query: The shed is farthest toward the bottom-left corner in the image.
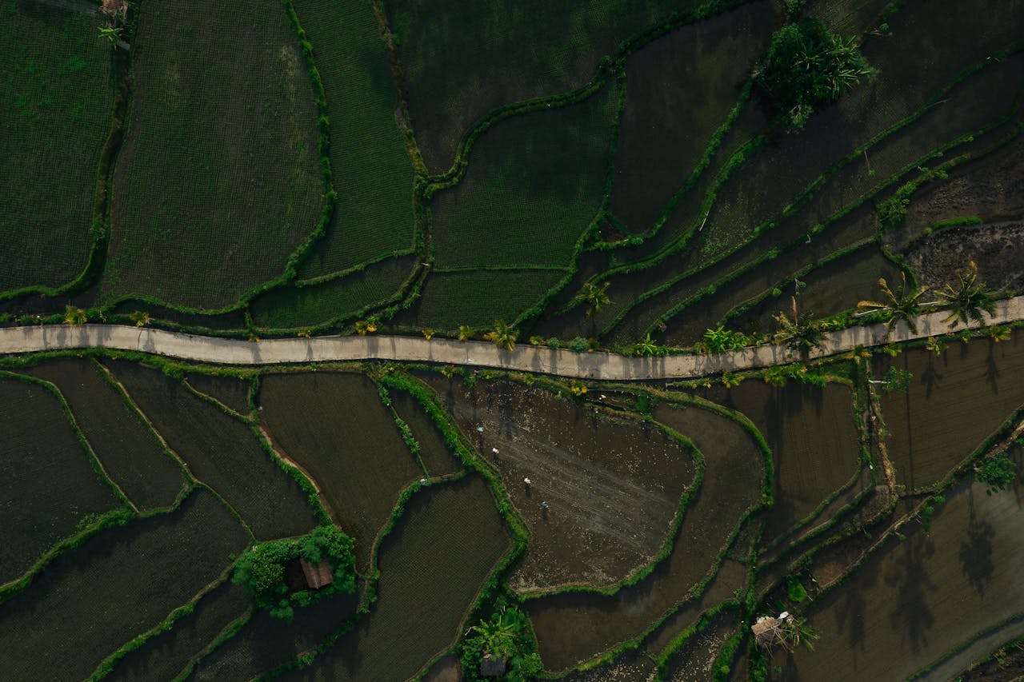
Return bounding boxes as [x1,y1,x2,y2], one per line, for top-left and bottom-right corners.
[298,557,336,588]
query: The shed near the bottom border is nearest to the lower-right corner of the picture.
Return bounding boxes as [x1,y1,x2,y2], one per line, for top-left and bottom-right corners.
[746,615,781,650]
